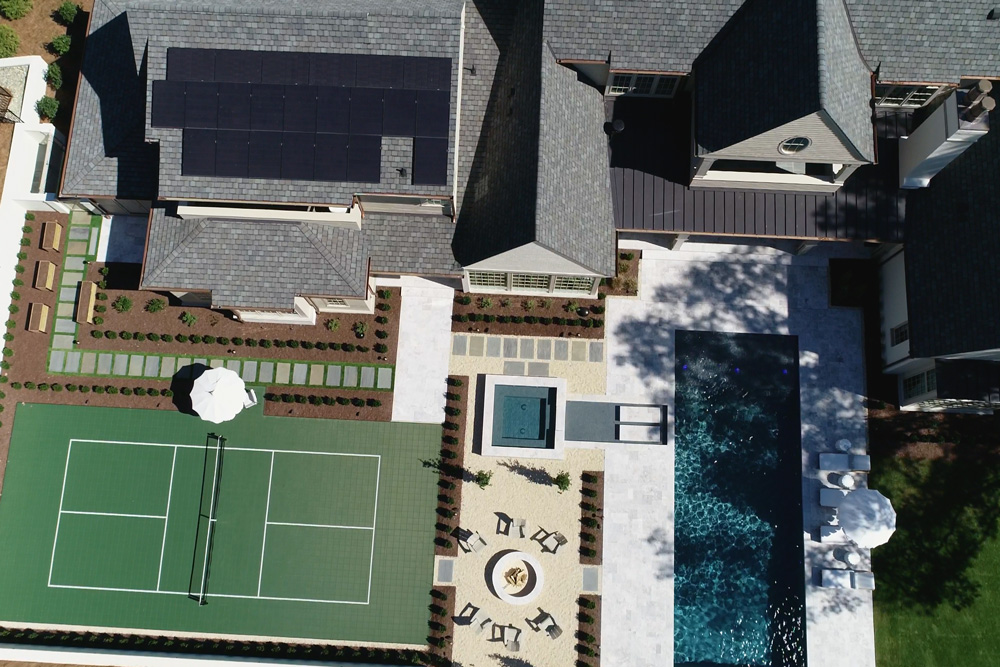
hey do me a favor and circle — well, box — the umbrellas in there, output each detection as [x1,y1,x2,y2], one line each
[192,367,250,424]
[835,488,897,551]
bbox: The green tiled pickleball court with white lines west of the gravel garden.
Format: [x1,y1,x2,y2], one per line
[0,386,443,643]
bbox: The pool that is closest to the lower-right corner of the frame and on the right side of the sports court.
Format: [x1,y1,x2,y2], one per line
[674,330,807,667]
